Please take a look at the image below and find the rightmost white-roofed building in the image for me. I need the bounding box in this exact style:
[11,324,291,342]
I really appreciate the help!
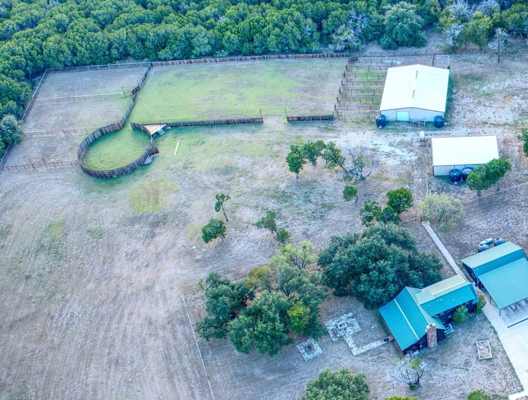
[433,136,499,174]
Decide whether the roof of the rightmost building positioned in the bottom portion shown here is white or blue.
blue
